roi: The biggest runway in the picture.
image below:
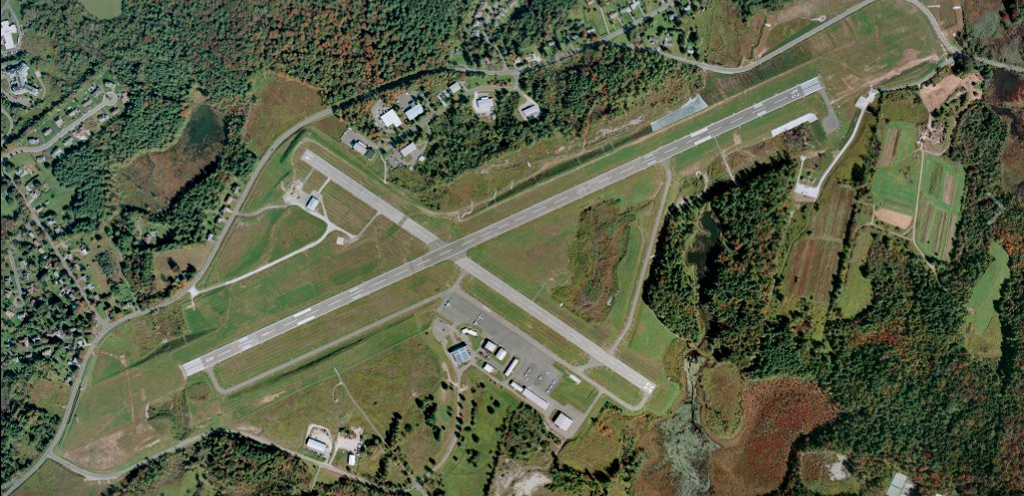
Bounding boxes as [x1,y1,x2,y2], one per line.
[182,75,825,377]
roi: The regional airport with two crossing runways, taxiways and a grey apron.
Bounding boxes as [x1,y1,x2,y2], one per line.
[179,75,839,452]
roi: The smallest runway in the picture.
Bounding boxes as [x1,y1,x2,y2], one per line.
[301,149,655,394]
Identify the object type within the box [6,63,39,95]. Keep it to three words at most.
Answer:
building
